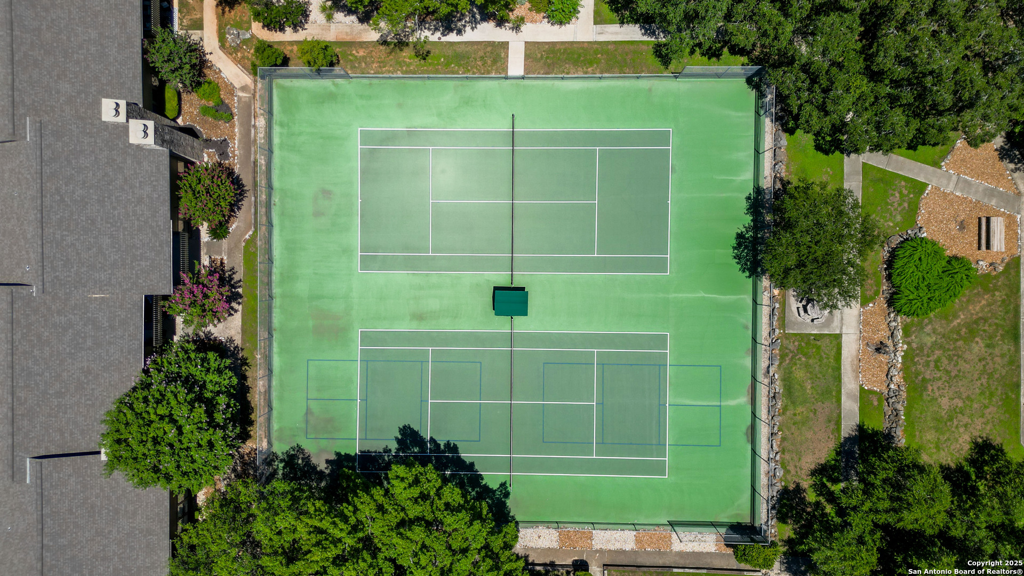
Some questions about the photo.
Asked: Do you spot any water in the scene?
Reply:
No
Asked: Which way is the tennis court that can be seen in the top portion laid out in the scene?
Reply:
from side to side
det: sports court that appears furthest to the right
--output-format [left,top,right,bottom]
[543,363,722,446]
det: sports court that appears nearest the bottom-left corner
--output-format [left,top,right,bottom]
[306,360,481,442]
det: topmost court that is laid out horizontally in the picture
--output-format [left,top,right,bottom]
[358,128,672,275]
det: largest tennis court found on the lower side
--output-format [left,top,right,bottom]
[357,329,669,478]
